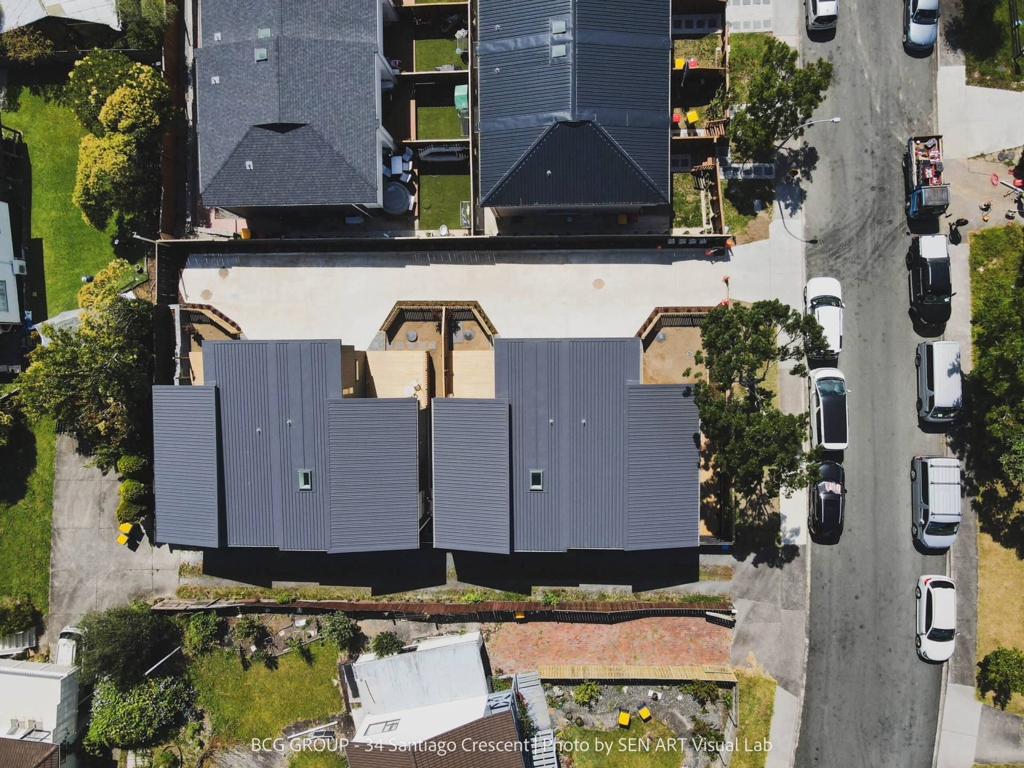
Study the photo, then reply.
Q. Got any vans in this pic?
Yes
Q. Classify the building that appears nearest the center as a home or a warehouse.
home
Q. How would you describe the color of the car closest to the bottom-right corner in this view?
white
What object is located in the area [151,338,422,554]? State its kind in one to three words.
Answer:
house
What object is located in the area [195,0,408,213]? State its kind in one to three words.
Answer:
house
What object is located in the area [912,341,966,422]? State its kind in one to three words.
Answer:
van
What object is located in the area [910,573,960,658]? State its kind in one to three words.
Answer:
car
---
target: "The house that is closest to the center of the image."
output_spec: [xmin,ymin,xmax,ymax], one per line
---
[430,336,702,554]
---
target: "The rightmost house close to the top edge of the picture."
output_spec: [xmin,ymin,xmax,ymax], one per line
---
[476,0,673,213]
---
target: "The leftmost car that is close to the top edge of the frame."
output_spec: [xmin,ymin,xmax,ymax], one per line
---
[798,0,840,33]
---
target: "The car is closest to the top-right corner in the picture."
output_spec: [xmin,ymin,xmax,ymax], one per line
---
[896,0,946,56]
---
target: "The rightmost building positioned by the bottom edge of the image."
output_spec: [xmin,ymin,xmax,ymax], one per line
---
[343,630,535,768]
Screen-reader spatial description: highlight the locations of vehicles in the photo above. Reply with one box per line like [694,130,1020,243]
[800,277,848,362]
[802,456,850,539]
[896,0,946,56]
[902,233,959,328]
[909,456,967,547]
[798,0,840,33]
[805,368,853,451]
[912,341,966,422]
[903,133,958,222]
[910,573,960,658]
